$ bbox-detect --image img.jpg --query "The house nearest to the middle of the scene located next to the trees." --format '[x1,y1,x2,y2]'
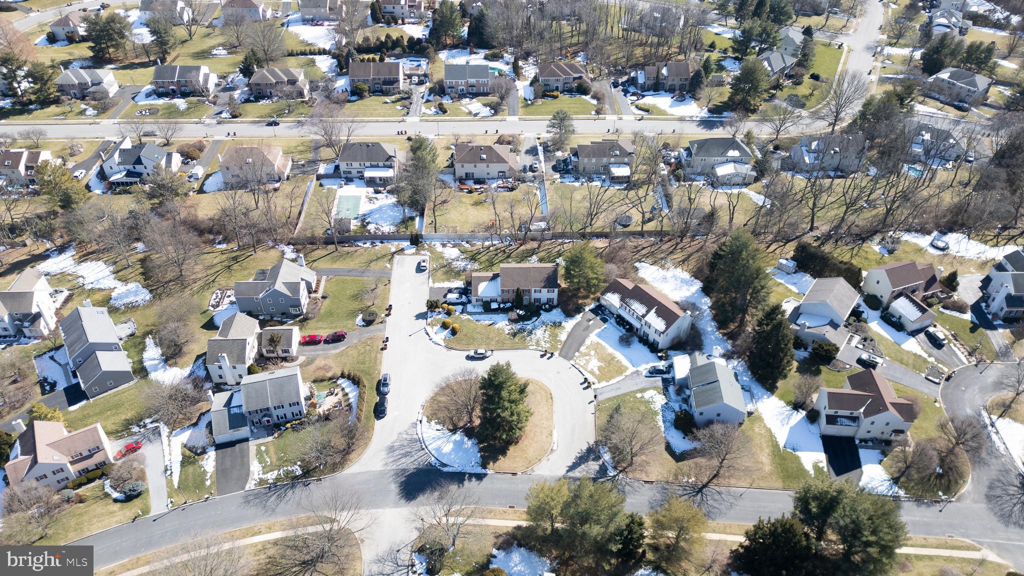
[464,259,562,306]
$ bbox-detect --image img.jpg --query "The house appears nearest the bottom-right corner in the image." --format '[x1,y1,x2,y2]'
[815,366,916,441]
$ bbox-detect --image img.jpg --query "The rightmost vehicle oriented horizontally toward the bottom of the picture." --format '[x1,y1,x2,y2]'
[860,354,884,367]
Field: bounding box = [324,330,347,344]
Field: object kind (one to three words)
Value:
car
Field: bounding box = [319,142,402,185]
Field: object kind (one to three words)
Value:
house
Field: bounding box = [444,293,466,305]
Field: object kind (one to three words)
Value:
vehicle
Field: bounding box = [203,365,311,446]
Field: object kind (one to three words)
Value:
house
